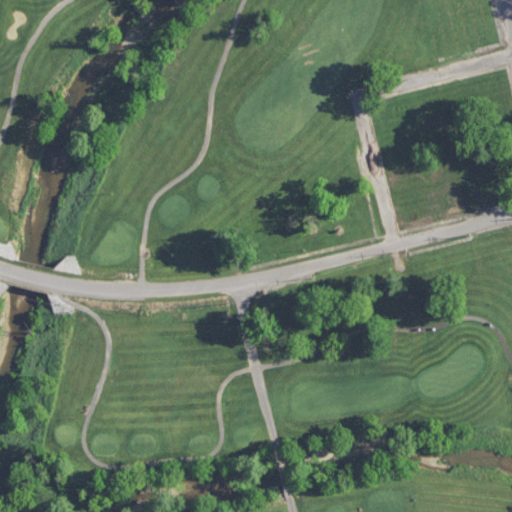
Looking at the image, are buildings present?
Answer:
No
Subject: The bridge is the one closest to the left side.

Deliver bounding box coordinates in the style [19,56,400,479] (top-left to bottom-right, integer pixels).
[0,241,84,315]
